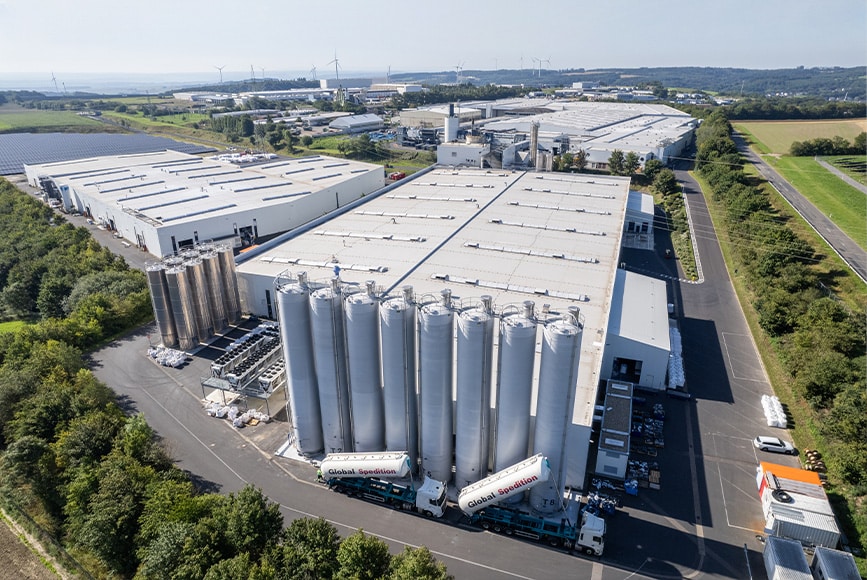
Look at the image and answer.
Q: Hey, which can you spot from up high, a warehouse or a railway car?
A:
warehouse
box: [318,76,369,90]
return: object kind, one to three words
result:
building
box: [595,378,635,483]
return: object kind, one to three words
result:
building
